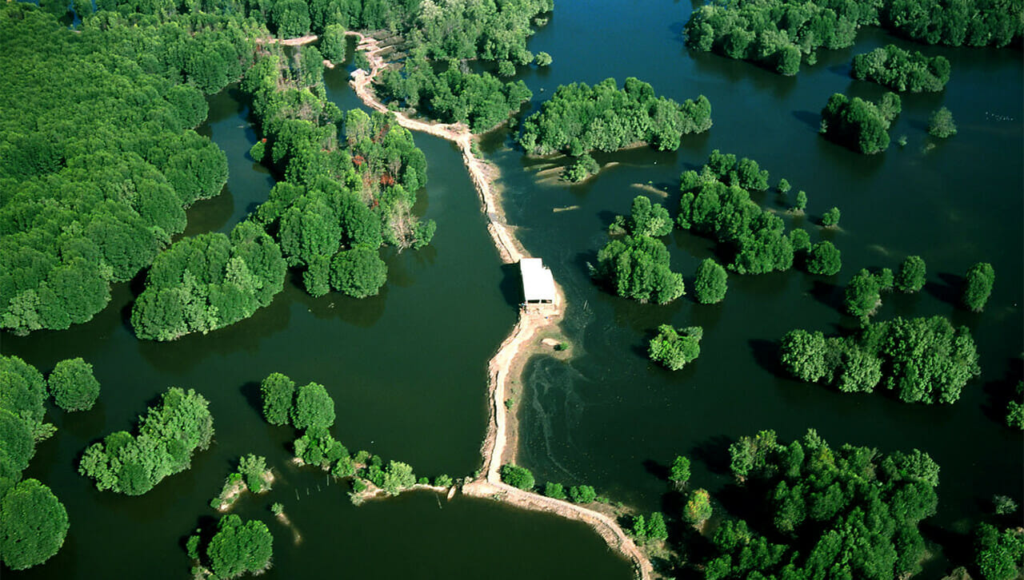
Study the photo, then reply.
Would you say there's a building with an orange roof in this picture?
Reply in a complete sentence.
No, there appears to be no building with an orange roof in this shot.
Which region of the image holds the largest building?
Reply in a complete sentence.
The largest building appears toward the center of the photo.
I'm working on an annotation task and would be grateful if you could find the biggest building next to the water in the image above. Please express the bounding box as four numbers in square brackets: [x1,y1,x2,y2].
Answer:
[520,257,555,314]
